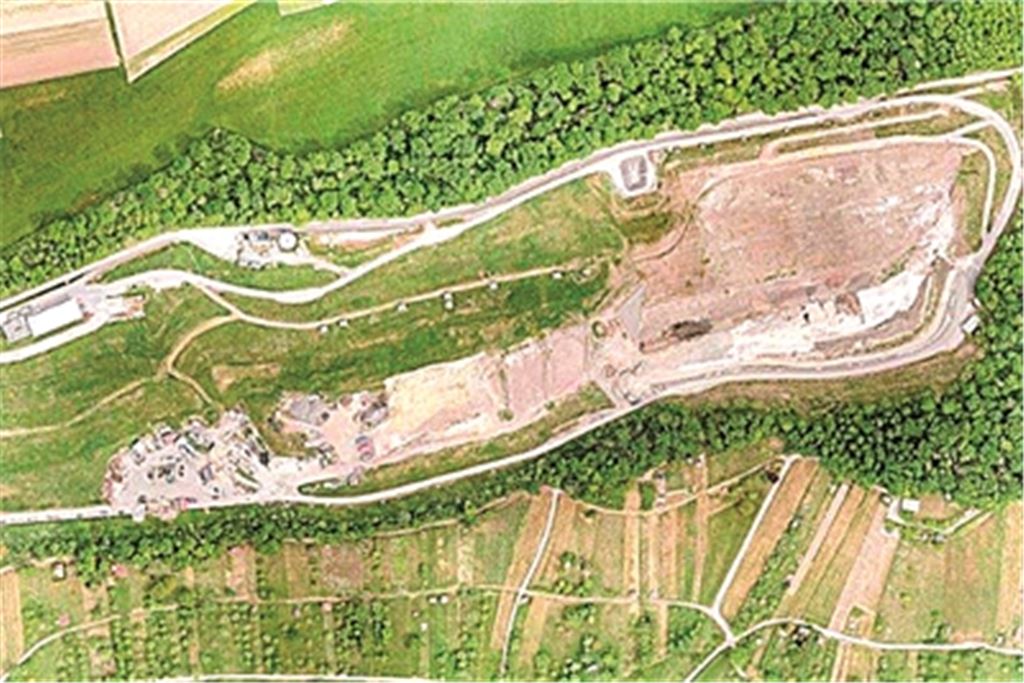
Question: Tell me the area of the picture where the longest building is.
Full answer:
You can find the longest building in the left area of the picture.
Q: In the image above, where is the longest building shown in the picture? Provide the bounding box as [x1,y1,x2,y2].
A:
[28,297,81,338]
